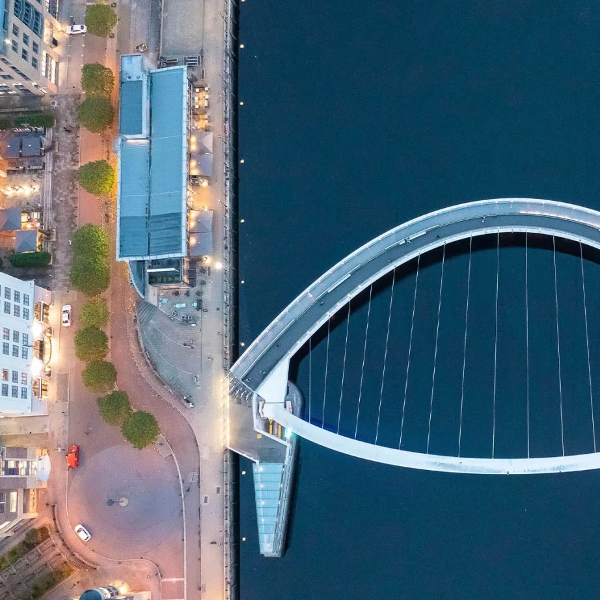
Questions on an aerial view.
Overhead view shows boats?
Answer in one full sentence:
No, no boat is visible in the view.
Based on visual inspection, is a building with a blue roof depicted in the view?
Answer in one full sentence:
Yes, this view includes a building with a blue roof.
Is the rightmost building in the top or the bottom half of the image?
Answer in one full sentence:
The rightmost building is in the bottom half of the image.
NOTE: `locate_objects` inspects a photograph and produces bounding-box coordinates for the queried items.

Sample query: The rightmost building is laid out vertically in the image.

[253,463,287,559]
